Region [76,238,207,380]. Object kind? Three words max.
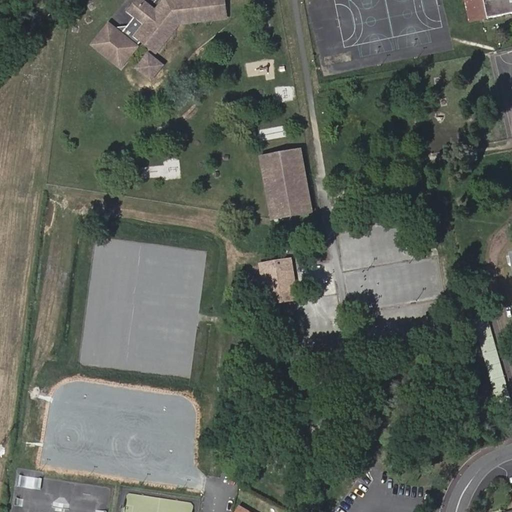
sports court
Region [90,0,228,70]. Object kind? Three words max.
building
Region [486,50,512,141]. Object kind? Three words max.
sports court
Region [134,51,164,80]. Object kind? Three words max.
building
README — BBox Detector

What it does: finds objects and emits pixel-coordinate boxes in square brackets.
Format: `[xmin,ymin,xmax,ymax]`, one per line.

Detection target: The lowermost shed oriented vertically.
[480,324,508,396]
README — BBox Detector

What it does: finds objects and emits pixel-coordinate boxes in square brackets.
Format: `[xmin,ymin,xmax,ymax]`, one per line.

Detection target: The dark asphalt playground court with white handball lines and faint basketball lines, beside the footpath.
[308,0,454,76]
